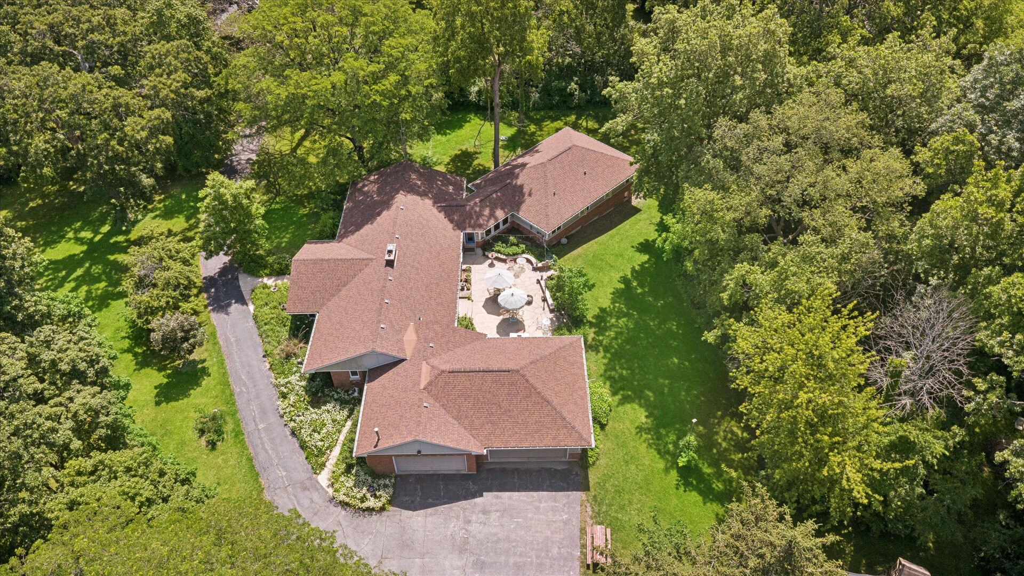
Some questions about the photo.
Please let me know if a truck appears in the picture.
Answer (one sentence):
No, the picture doesn't show any truck.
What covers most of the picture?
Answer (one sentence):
For the most part, this view shows trees.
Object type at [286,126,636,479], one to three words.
house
